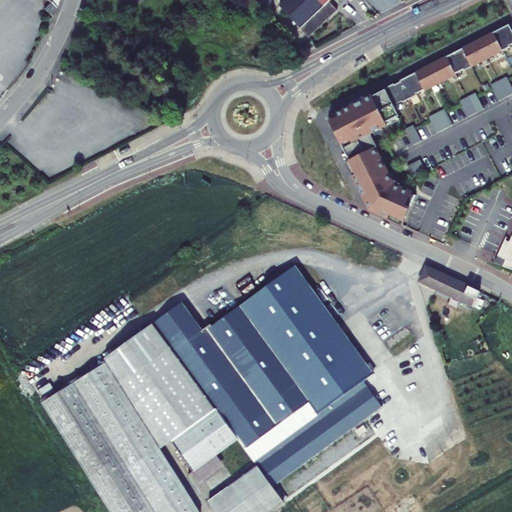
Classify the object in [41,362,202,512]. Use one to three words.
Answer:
warehouse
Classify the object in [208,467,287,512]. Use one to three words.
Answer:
building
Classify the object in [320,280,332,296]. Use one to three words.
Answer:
vehicle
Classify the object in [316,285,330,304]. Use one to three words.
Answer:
vehicle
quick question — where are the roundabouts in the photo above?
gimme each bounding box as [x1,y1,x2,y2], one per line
[208,78,284,154]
